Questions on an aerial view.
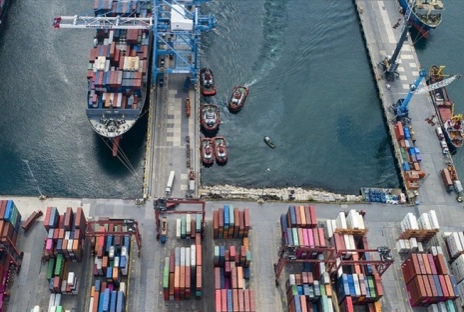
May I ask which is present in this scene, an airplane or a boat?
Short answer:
boat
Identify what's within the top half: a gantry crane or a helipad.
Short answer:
gantry crane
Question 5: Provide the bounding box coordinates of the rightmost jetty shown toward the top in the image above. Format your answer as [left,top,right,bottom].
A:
[353,0,464,208]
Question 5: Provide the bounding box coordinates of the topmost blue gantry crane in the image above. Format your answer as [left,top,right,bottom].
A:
[153,0,196,36]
